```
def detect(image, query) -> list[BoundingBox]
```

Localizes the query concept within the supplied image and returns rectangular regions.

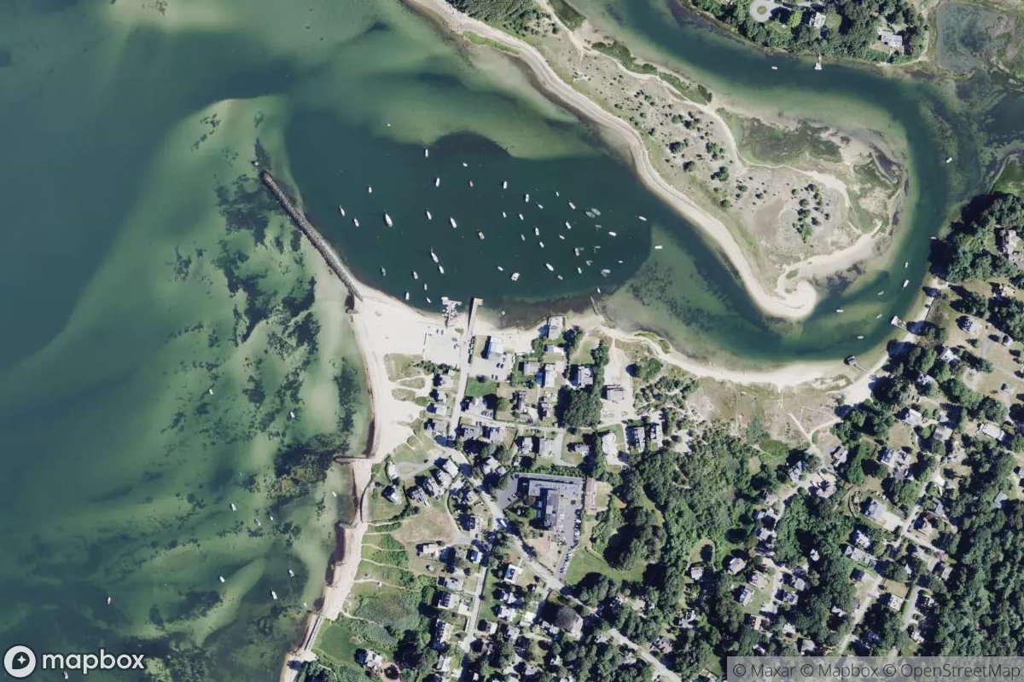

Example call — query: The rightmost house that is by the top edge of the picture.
[880,30,904,48]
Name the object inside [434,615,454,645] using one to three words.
house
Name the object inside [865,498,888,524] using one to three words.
house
